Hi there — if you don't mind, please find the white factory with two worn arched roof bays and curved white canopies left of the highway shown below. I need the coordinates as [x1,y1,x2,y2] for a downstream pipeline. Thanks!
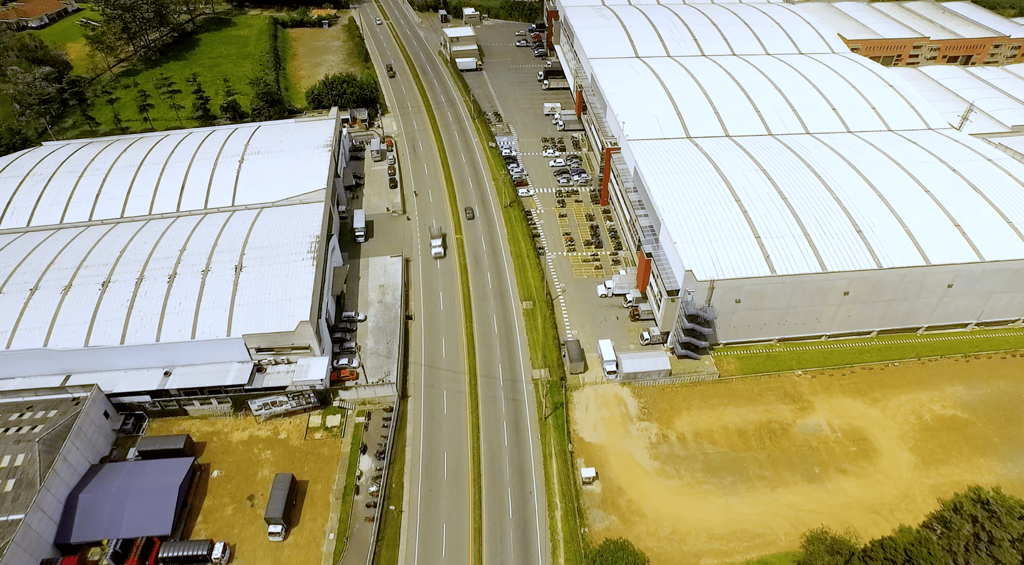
[0,104,359,414]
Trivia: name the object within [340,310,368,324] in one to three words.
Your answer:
car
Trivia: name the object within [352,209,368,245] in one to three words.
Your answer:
vehicle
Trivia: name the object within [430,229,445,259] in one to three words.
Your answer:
vehicle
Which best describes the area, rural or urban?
urban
